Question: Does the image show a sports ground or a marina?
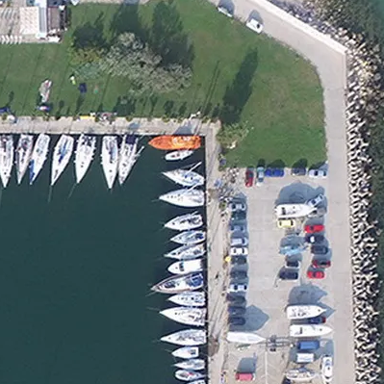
marina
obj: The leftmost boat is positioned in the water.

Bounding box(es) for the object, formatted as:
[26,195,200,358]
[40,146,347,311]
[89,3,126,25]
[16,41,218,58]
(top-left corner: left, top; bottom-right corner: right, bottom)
[0,129,14,201]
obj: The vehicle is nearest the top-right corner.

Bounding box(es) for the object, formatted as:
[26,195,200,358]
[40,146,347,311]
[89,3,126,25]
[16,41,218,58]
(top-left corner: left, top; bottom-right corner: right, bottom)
[246,18,264,33]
